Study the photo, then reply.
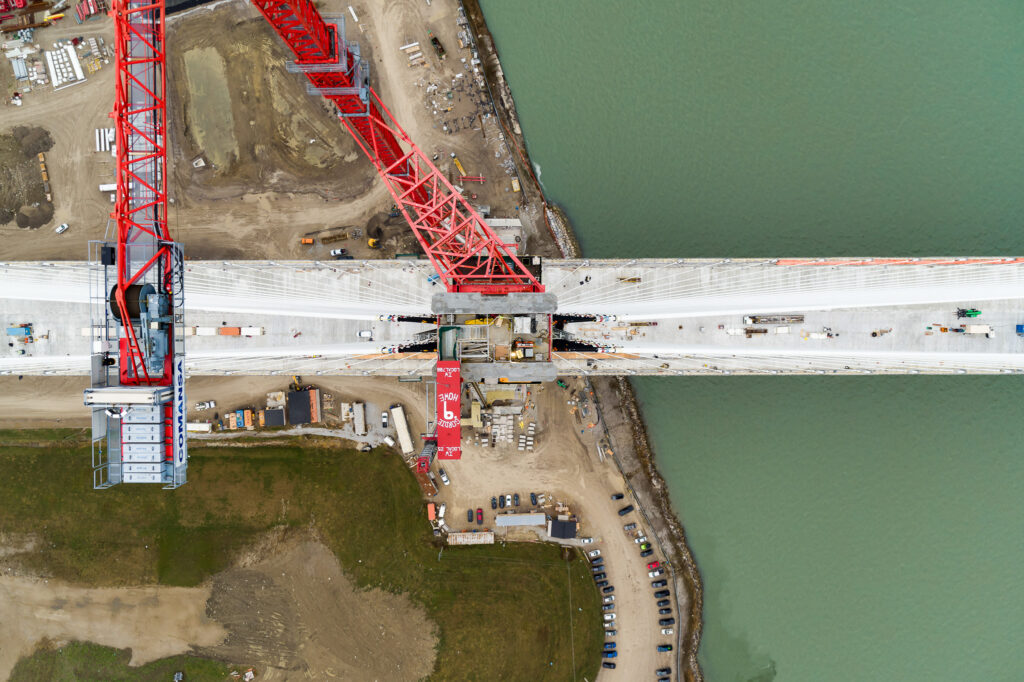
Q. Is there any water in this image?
Yes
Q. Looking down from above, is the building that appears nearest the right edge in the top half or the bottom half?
bottom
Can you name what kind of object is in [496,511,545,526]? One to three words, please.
building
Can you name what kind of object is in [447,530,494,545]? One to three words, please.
building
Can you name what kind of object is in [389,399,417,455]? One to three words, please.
trailer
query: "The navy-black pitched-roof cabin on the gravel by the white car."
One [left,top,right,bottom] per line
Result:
[550,517,576,538]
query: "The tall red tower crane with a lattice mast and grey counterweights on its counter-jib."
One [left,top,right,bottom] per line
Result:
[84,0,545,489]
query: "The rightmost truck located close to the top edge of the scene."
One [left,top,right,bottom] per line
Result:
[427,30,449,62]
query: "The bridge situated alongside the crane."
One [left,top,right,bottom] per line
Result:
[0,242,1024,392]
